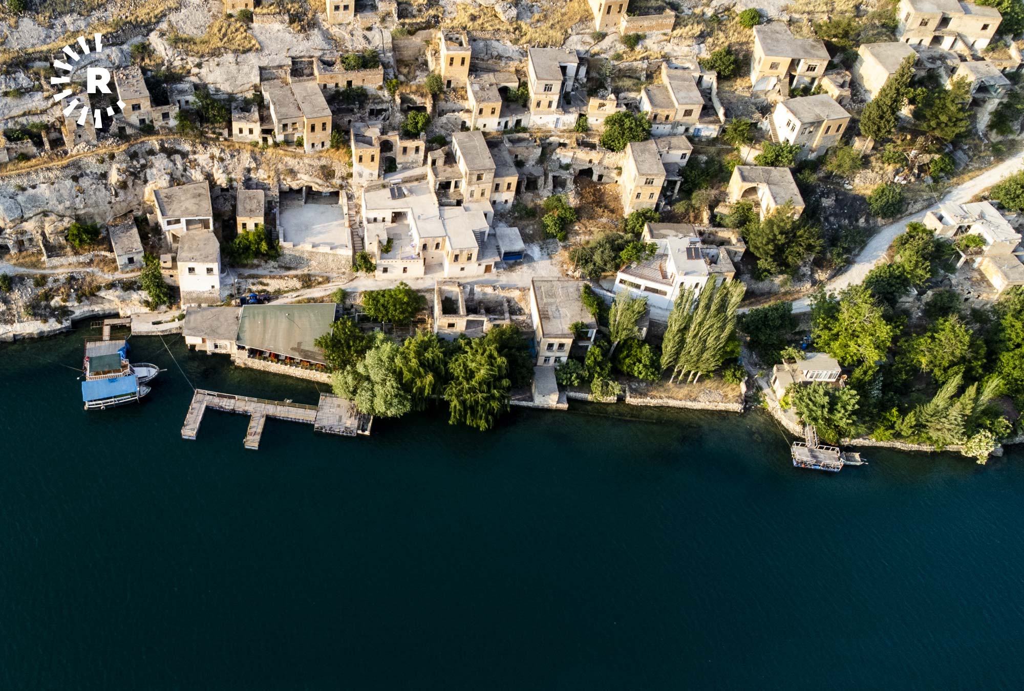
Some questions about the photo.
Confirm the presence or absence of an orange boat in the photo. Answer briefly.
No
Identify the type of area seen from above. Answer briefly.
residential area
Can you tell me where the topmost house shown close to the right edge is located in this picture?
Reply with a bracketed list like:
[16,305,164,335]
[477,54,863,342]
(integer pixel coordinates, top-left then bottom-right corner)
[897,0,1004,50]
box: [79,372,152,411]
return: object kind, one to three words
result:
boat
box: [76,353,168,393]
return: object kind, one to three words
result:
boat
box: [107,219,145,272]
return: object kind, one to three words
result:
house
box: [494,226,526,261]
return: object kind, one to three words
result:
shed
